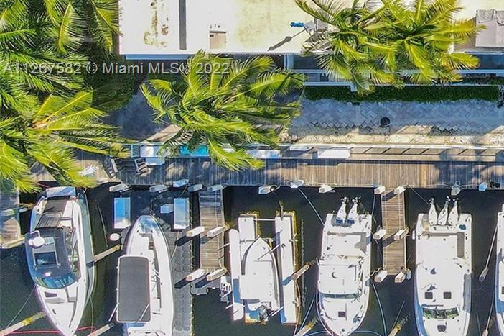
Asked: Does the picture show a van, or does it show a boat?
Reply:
boat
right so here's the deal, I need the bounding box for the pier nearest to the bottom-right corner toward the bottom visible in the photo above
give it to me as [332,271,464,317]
[382,189,406,272]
